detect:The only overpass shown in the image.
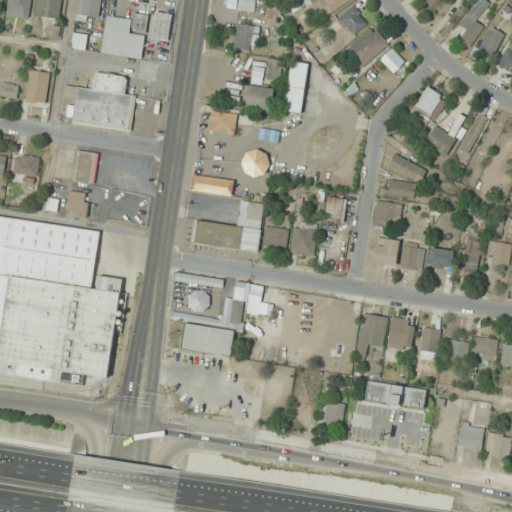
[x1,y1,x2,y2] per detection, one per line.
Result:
[68,456,182,512]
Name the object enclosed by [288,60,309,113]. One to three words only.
shed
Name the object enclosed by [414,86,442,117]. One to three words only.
house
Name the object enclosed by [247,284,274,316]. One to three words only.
building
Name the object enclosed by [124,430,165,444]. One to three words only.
vehicle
